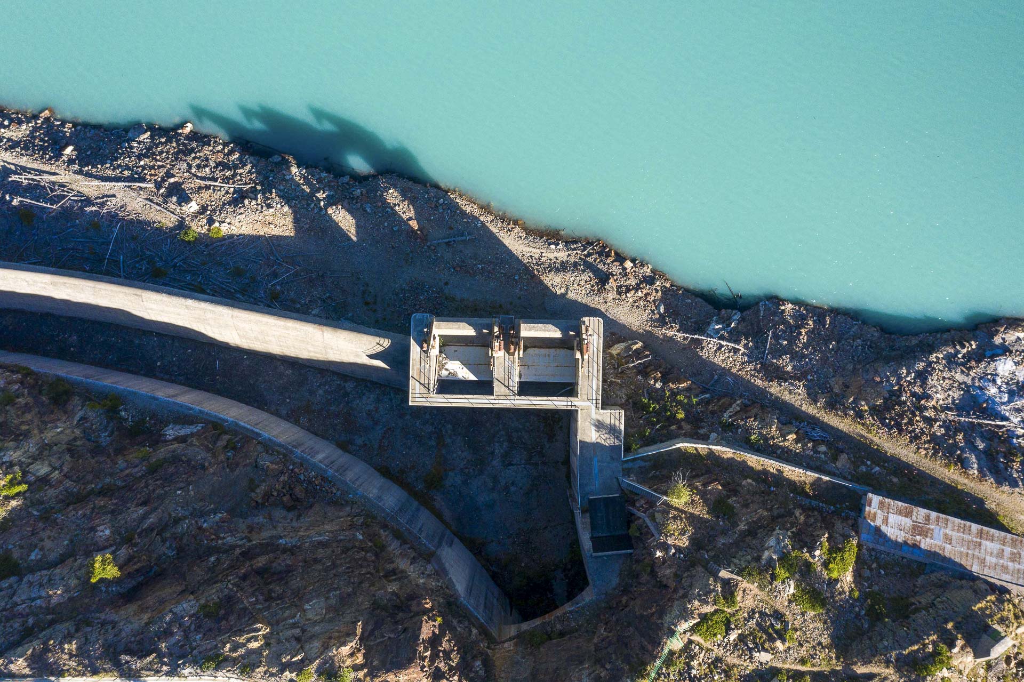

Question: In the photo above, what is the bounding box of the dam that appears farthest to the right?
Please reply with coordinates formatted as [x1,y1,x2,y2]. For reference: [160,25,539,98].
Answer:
[408,314,604,410]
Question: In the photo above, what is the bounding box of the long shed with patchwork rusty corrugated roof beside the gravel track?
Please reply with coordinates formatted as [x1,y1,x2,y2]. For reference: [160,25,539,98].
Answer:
[856,490,1024,588]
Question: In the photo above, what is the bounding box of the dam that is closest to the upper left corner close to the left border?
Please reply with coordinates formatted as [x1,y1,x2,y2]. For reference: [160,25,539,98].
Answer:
[0,259,409,391]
